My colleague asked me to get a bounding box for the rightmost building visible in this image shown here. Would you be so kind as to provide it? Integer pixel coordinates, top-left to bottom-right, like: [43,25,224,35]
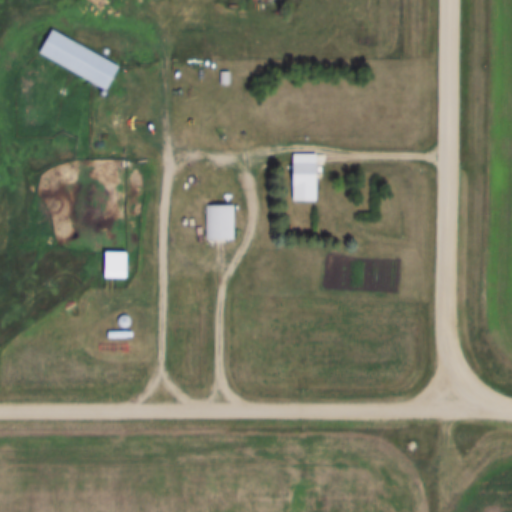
[292,153,327,202]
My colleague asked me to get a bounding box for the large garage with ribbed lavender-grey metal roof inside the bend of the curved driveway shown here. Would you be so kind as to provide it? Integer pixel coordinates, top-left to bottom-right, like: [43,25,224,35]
[206,204,236,246]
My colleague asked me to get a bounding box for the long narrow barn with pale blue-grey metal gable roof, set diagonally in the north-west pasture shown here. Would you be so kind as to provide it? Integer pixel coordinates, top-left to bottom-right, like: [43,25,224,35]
[39,28,120,90]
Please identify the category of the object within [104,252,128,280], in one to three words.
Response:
shed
